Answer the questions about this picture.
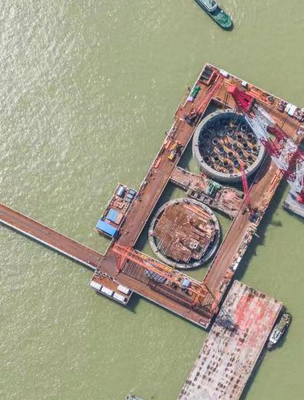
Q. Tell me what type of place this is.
port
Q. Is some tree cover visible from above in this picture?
No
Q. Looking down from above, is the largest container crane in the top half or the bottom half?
bottom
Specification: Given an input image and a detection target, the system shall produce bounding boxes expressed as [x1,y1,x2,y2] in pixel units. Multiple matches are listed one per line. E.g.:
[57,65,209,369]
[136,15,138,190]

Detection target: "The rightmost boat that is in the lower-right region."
[261,309,291,354]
